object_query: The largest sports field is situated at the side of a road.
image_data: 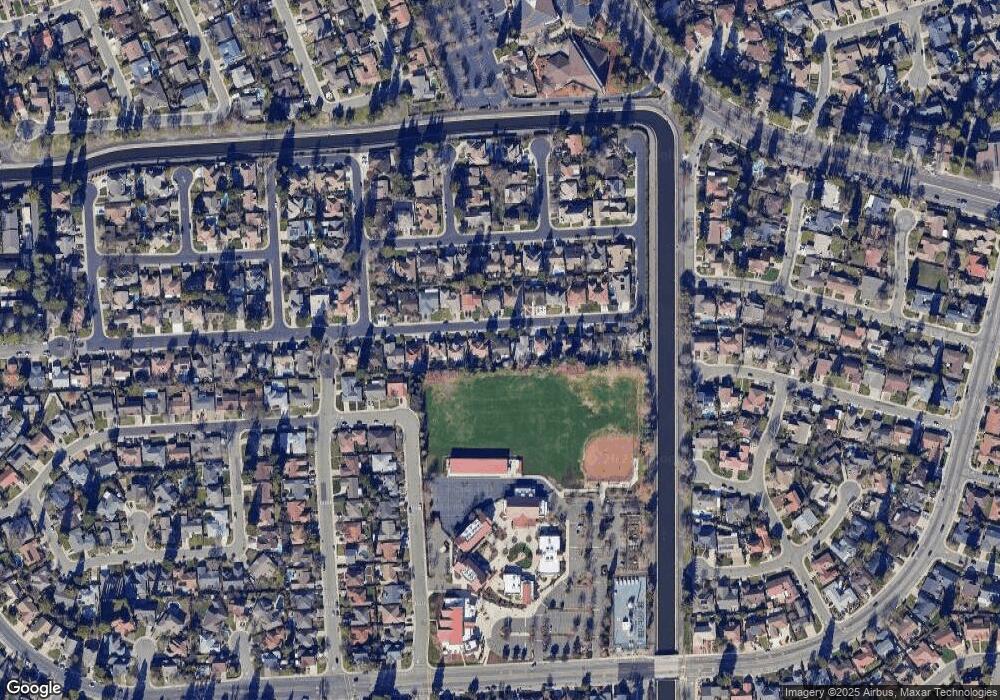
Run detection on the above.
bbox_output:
[429,368,645,487]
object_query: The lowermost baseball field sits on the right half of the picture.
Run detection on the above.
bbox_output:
[584,433,639,488]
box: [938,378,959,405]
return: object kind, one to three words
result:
house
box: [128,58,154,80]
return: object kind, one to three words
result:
house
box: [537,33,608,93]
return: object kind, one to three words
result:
building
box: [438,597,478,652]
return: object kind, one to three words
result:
building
